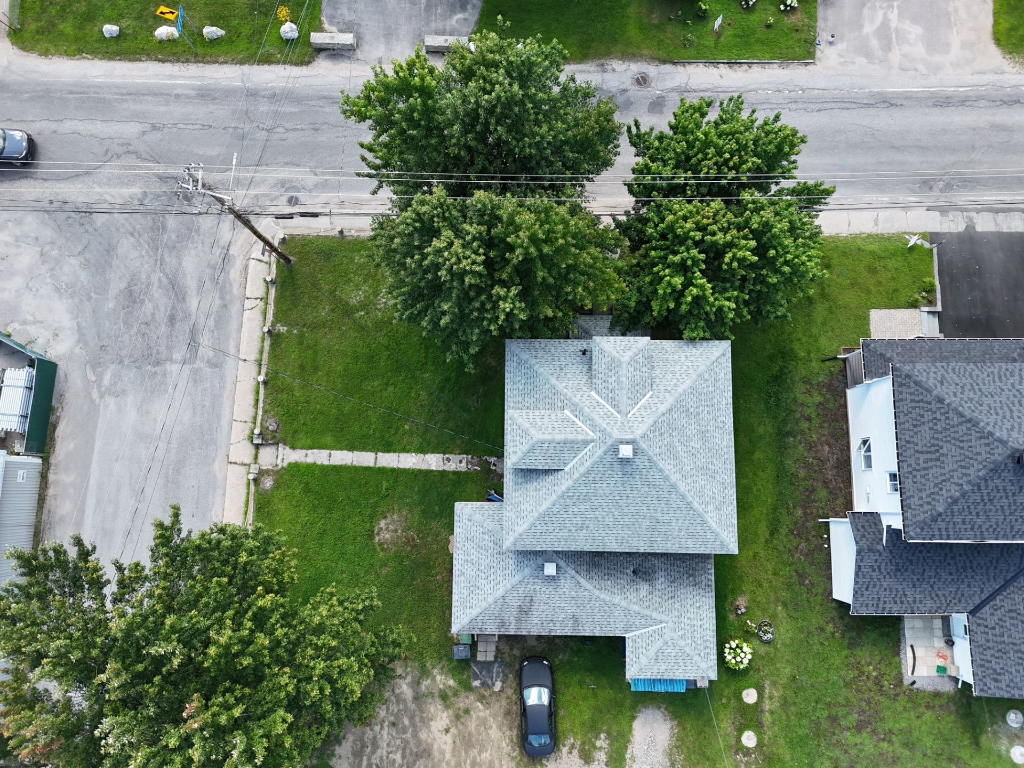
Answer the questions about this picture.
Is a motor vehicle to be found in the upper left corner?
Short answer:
Yes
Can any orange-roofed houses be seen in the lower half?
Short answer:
No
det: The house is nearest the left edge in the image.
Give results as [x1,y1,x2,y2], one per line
[451,301,738,692]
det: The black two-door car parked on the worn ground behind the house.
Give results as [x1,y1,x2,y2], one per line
[514,654,561,760]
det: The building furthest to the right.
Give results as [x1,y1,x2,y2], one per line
[810,333,1024,700]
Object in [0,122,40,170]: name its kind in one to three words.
car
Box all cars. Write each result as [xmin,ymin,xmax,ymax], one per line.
[0,122,40,170]
[514,654,561,760]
